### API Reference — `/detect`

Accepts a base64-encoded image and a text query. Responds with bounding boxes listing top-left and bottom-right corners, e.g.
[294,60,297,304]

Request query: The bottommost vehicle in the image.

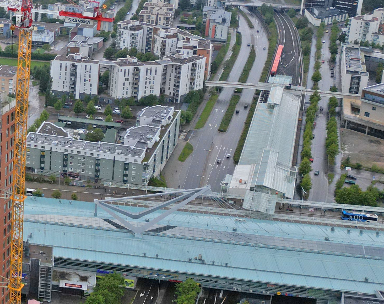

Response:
[341,210,380,223]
